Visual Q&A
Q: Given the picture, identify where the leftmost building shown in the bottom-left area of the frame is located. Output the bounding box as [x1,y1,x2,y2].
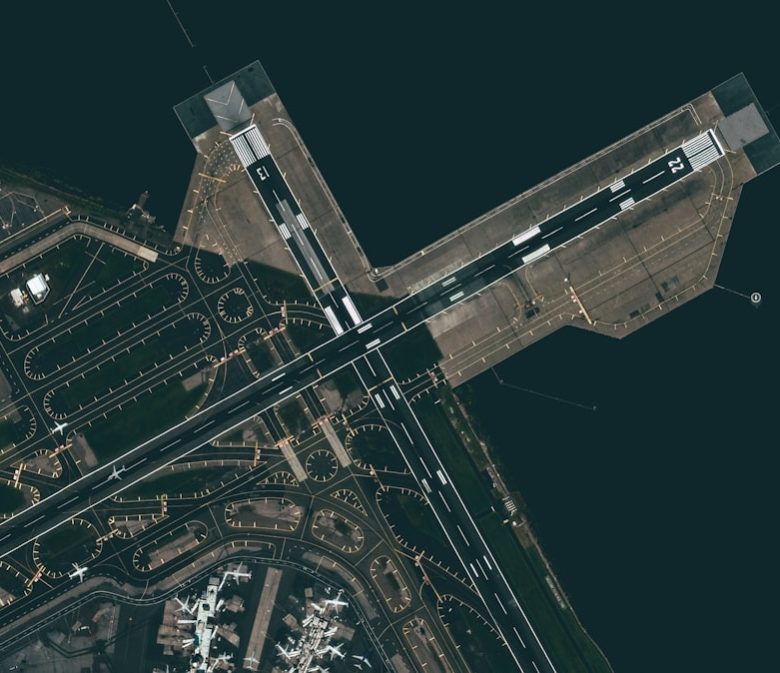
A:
[176,573,227,673]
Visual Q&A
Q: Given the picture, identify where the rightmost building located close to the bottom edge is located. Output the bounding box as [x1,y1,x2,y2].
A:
[287,601,338,673]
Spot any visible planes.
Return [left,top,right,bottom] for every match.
[218,650,233,663]
[326,592,349,614]
[329,646,346,662]
[226,563,251,585]
[243,652,260,671]
[108,465,126,480]
[51,420,68,434]
[355,649,374,670]
[274,643,289,658]
[173,595,191,614]
[68,564,88,583]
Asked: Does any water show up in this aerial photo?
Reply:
Yes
